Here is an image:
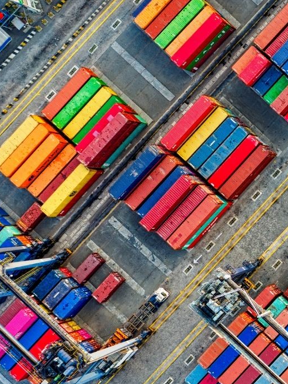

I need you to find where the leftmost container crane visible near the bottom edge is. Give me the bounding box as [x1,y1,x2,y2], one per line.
[0,245,157,384]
